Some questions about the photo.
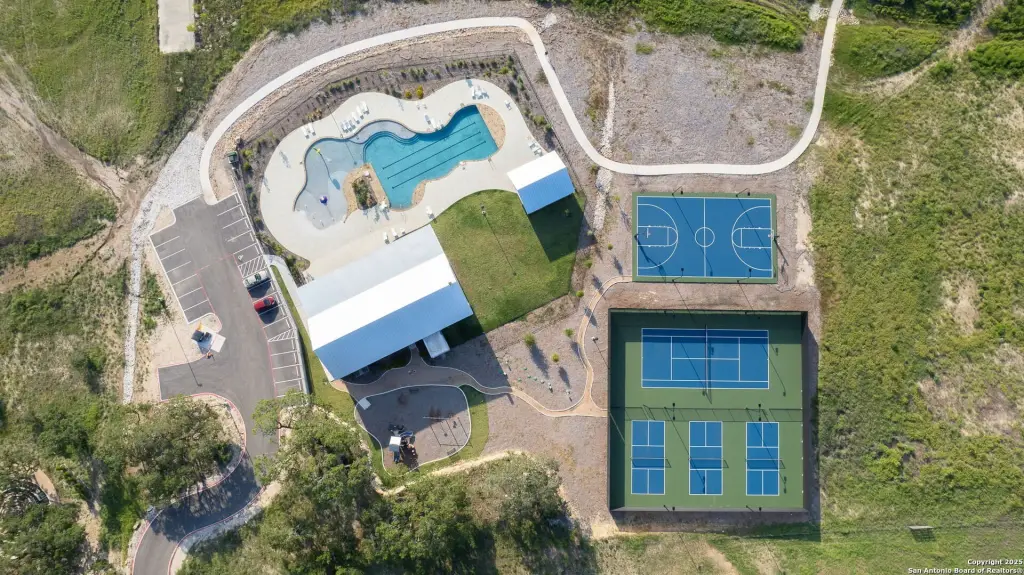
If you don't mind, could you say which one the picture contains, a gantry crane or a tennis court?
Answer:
tennis court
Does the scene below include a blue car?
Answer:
No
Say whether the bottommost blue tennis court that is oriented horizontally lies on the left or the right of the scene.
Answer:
right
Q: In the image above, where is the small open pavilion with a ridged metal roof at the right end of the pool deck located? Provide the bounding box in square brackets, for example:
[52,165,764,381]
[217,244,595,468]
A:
[508,149,574,213]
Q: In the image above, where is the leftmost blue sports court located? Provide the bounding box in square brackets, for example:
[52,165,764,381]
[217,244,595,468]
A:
[632,421,665,494]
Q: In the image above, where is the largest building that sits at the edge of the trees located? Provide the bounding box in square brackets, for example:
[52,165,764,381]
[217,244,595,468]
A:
[296,223,472,380]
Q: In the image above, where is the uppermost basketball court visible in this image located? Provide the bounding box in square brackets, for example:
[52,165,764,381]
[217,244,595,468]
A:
[632,192,777,283]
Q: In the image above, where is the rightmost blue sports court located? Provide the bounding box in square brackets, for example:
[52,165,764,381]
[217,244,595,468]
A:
[746,422,779,496]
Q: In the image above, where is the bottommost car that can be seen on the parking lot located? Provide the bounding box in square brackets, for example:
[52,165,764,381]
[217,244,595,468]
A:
[250,294,277,312]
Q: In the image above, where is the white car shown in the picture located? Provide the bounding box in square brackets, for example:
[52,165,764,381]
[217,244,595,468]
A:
[240,270,269,289]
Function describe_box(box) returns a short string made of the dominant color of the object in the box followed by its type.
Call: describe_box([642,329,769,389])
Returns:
blue tennis court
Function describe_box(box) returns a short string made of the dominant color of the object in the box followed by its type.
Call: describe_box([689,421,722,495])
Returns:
blue sports court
